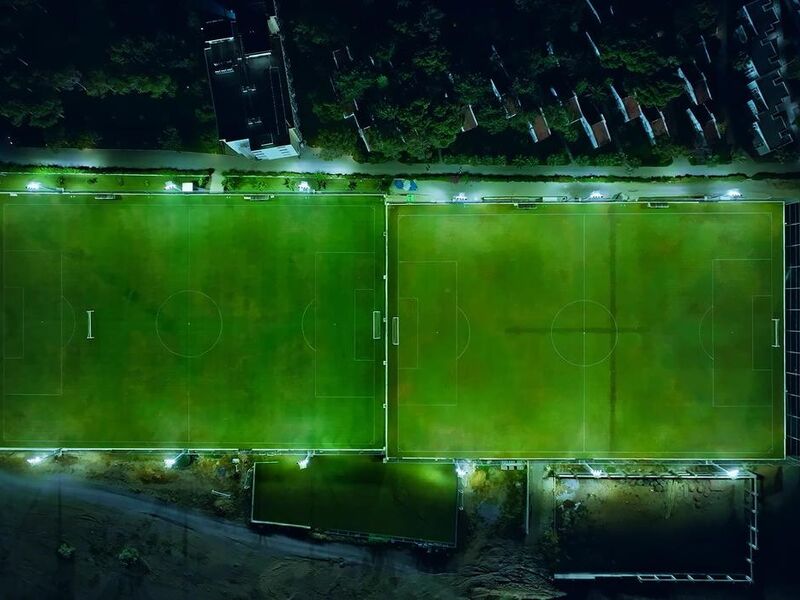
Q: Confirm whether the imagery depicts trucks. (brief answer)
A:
No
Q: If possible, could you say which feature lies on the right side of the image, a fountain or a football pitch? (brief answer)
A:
football pitch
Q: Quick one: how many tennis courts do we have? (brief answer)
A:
0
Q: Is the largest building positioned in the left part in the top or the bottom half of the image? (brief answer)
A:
top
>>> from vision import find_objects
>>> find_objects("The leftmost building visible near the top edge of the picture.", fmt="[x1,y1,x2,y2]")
[203,5,300,162]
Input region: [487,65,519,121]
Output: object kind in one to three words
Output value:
house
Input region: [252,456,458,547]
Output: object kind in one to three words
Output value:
sports field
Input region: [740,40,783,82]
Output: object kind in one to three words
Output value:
building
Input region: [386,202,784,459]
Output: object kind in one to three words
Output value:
soccer field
